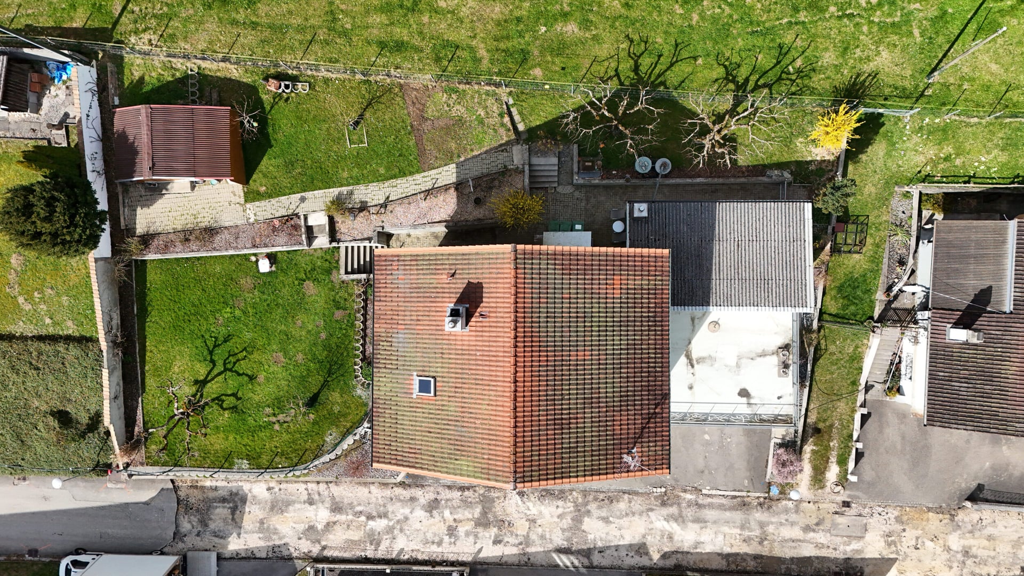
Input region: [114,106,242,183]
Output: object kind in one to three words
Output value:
shed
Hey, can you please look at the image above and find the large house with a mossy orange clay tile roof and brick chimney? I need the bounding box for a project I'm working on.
[369,244,673,493]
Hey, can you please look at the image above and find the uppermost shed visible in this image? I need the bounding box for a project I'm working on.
[0,52,31,113]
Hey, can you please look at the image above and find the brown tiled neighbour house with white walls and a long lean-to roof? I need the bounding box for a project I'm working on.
[887,216,1024,432]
